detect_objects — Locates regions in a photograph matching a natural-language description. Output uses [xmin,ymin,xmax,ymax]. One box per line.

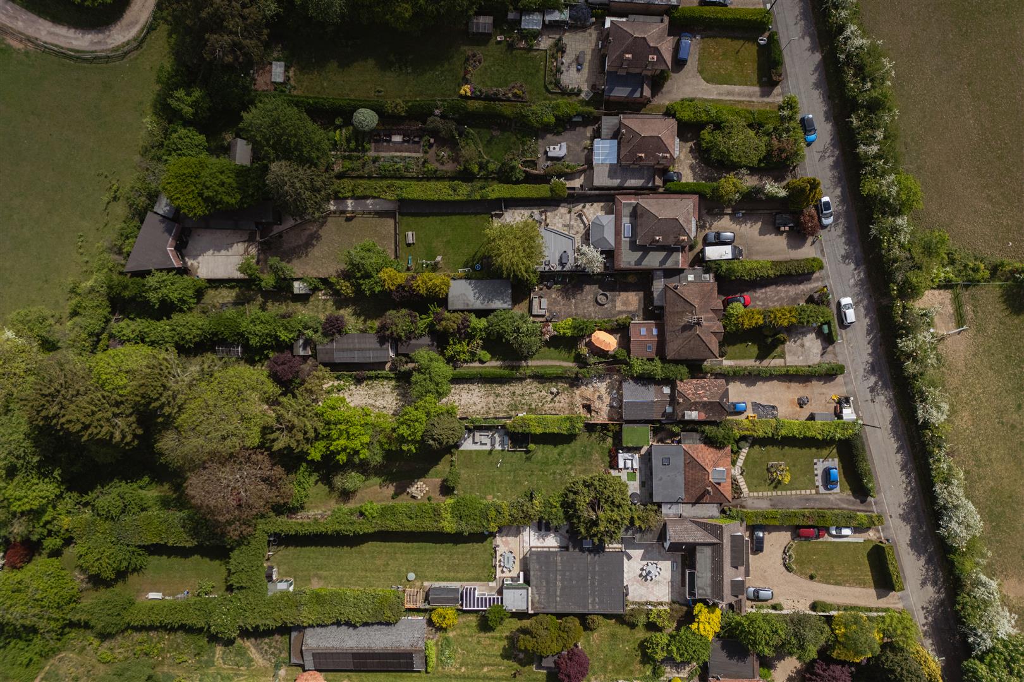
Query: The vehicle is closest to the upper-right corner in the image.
[799,114,817,144]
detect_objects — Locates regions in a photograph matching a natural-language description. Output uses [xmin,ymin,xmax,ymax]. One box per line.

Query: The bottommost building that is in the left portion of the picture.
[290,611,426,670]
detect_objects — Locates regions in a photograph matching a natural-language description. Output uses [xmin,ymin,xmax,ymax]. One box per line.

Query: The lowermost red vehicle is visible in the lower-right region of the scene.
[794,526,827,542]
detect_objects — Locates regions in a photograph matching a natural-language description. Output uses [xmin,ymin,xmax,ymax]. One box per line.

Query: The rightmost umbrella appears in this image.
[591,332,617,352]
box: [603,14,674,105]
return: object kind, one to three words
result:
house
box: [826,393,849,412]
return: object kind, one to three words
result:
work vehicle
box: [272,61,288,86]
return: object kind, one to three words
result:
greenhouse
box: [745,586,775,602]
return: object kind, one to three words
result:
car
